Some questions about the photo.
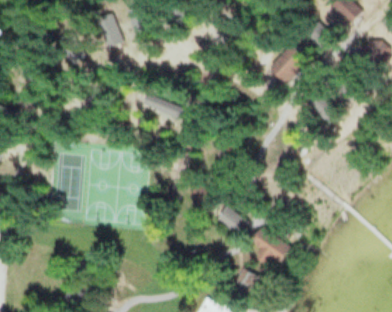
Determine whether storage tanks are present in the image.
No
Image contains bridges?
No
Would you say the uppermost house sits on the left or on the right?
right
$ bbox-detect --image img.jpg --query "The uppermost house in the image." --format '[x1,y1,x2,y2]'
[333,0,363,26]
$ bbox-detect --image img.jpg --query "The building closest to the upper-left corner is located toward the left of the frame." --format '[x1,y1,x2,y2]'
[100,13,126,47]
